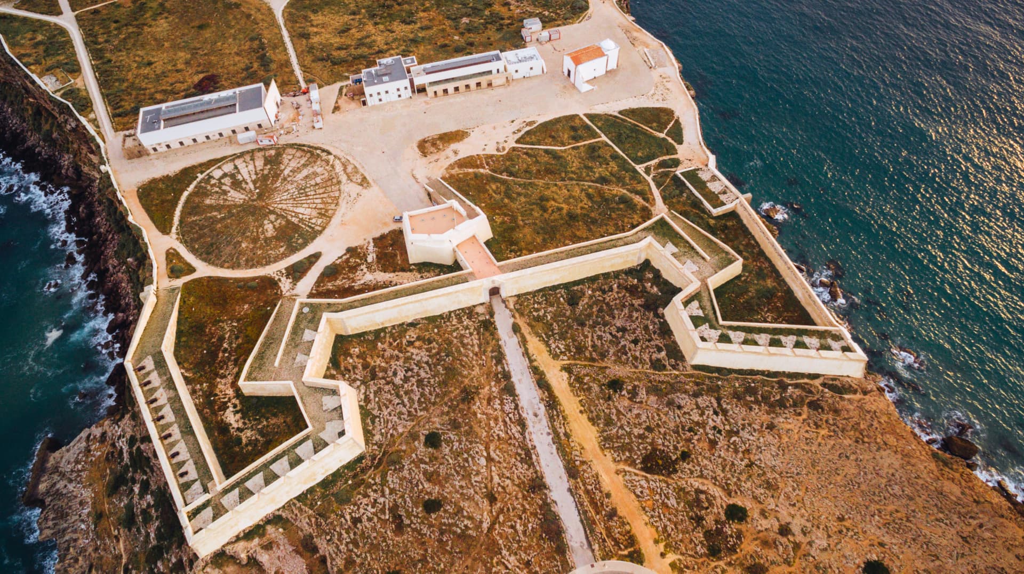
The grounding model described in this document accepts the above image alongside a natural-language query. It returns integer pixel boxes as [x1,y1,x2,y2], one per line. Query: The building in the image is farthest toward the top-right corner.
[562,39,619,87]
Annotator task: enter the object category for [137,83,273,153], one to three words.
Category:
building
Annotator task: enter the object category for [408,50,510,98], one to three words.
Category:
building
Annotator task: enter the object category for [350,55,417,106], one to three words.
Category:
house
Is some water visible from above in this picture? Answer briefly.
Yes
